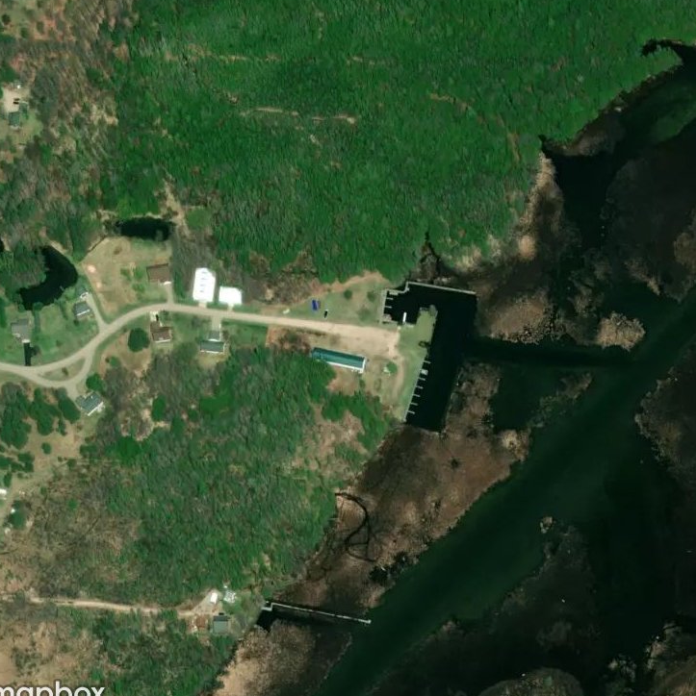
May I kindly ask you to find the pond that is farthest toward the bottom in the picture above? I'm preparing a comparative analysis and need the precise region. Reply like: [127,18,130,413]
[20,246,78,310]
